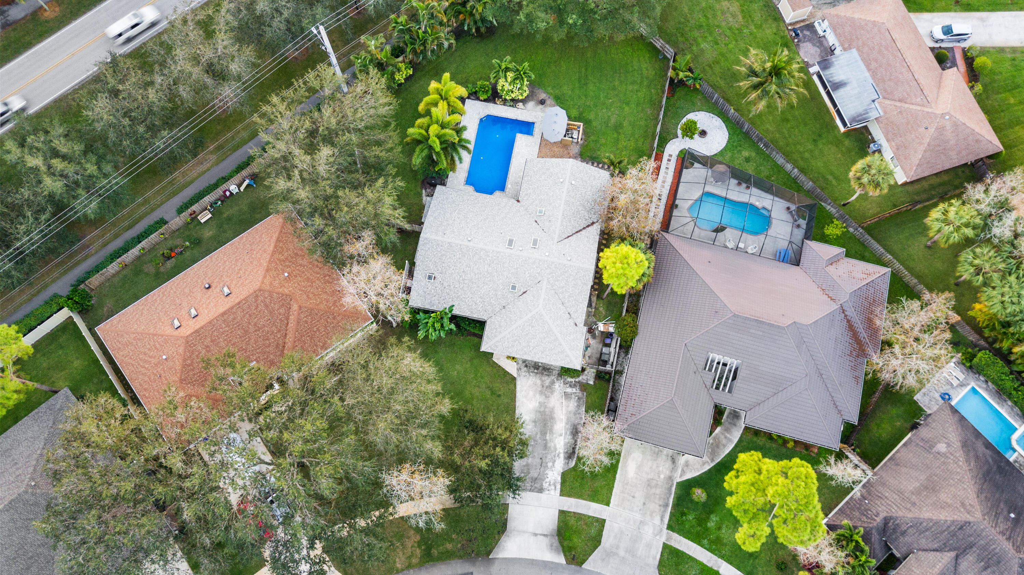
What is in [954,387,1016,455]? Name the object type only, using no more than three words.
swimming pool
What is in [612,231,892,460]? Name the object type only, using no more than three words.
house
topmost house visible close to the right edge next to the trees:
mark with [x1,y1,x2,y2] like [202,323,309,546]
[811,0,1004,188]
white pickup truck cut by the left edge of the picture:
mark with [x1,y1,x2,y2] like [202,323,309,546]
[0,93,26,122]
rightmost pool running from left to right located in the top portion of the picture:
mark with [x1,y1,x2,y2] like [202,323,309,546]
[689,192,771,234]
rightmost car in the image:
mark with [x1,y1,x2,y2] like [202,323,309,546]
[935,20,977,41]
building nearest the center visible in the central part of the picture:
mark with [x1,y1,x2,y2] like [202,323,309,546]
[409,158,610,371]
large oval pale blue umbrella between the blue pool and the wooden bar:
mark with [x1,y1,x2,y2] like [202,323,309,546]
[543,108,567,141]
